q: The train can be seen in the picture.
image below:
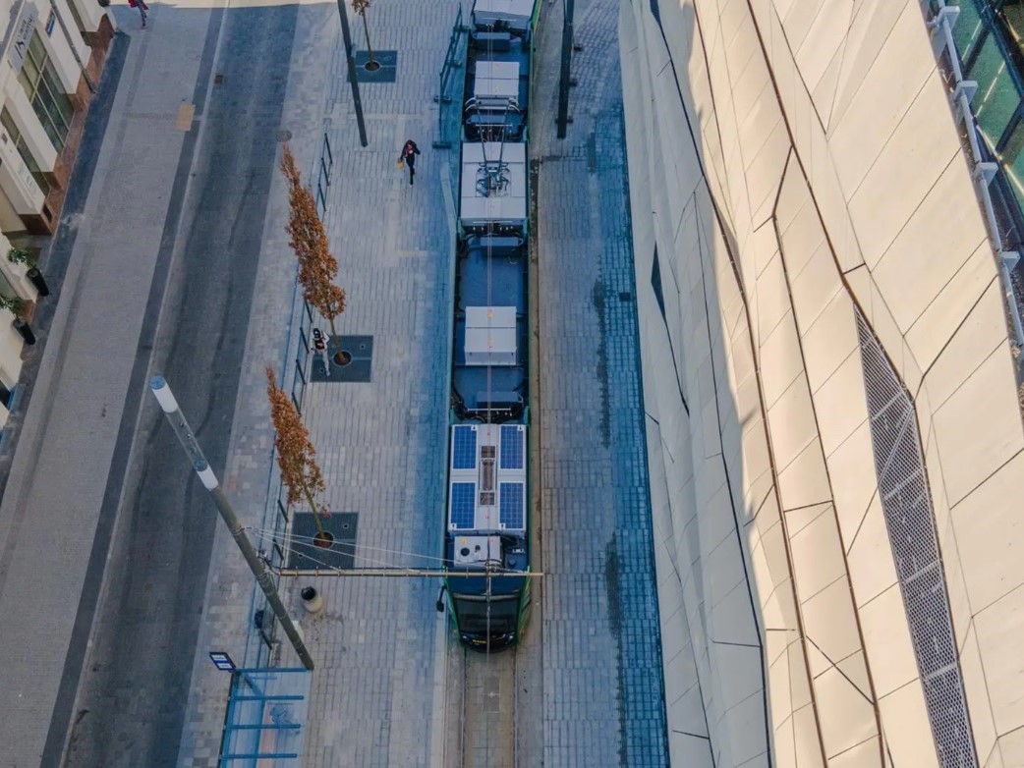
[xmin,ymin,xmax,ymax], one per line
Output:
[436,0,541,653]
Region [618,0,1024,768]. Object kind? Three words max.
building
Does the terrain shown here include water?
No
